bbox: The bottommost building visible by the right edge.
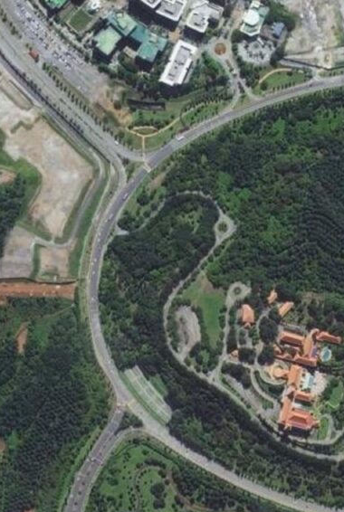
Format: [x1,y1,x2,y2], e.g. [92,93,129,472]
[269,324,343,433]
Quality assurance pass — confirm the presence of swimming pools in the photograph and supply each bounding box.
[321,347,332,362]
[307,373,315,389]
